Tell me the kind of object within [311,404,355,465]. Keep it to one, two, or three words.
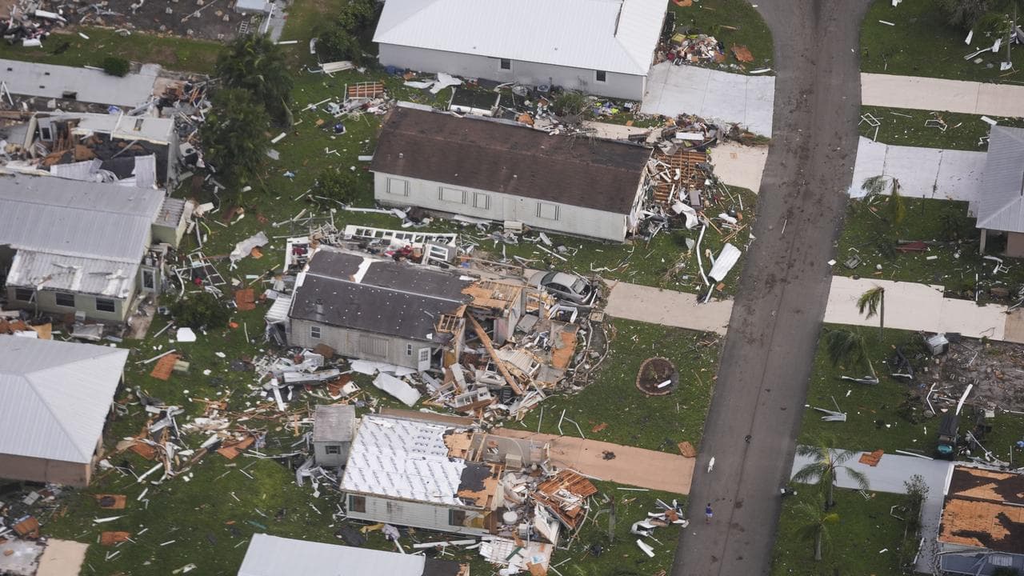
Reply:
shed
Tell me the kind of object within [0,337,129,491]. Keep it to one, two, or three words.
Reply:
house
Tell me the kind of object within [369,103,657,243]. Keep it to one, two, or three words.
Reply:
house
